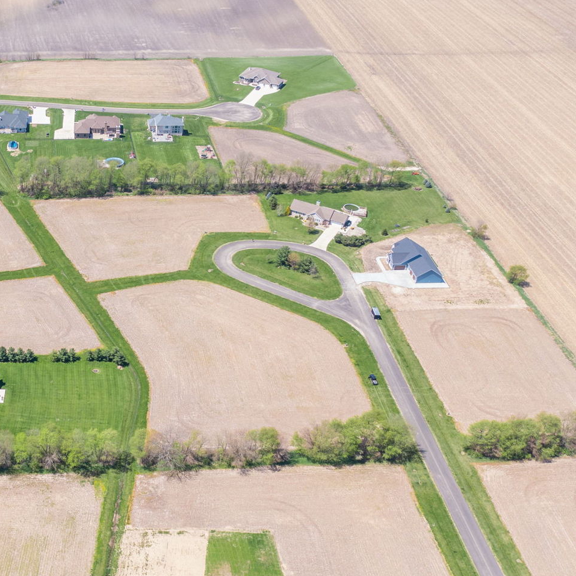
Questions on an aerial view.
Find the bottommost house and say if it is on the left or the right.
right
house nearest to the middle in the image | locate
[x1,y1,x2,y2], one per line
[290,200,352,230]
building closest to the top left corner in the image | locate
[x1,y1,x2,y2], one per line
[0,115,27,133]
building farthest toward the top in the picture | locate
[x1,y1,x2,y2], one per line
[239,64,285,88]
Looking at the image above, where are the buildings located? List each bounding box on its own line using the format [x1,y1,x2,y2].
[290,200,352,230]
[0,115,27,133]
[239,64,285,88]
[378,236,448,282]
[73,119,120,138]
[146,114,184,136]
